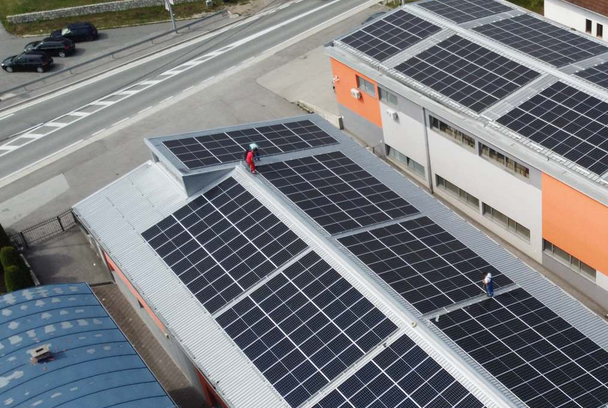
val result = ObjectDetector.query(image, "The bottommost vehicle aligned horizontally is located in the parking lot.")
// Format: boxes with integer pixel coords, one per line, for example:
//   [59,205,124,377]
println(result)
[1,52,53,73]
